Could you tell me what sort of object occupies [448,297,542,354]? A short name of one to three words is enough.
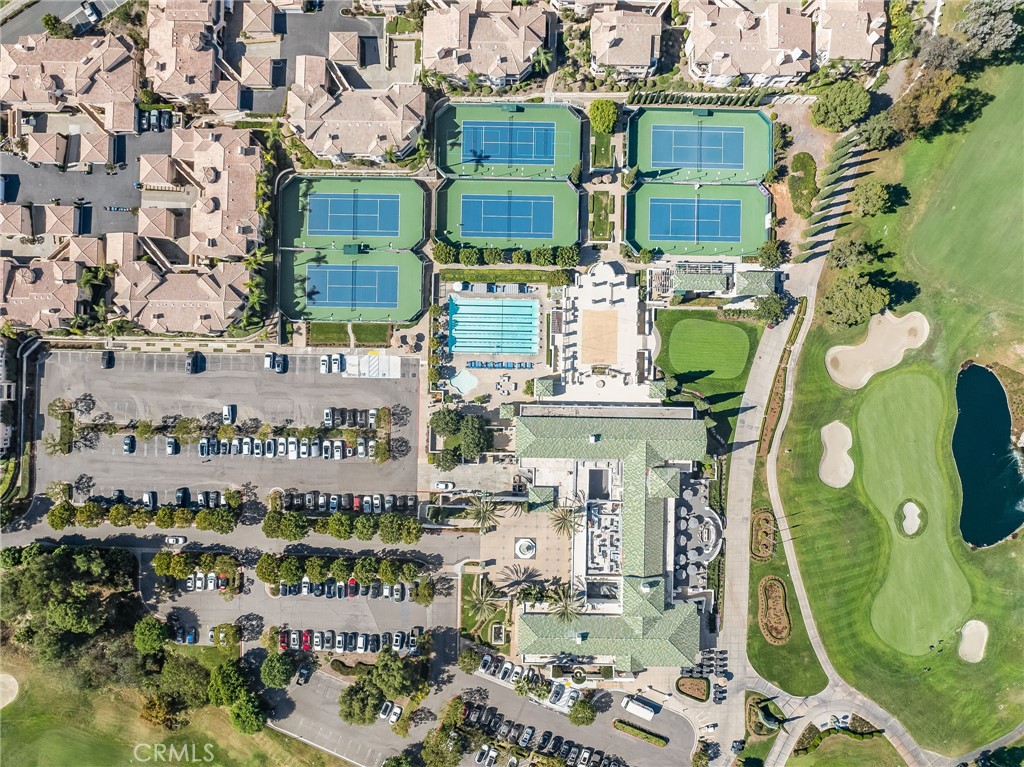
swimming pool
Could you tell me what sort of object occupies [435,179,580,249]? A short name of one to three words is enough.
tennis court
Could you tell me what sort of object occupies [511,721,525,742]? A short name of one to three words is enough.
car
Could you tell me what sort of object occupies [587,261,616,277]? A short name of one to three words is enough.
building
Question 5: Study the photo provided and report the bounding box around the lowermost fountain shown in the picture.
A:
[516,539,535,558]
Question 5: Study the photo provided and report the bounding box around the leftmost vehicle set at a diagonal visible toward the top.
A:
[80,1,100,25]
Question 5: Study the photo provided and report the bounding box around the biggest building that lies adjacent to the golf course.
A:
[516,404,709,675]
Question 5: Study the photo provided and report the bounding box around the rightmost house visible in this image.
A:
[812,0,886,79]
